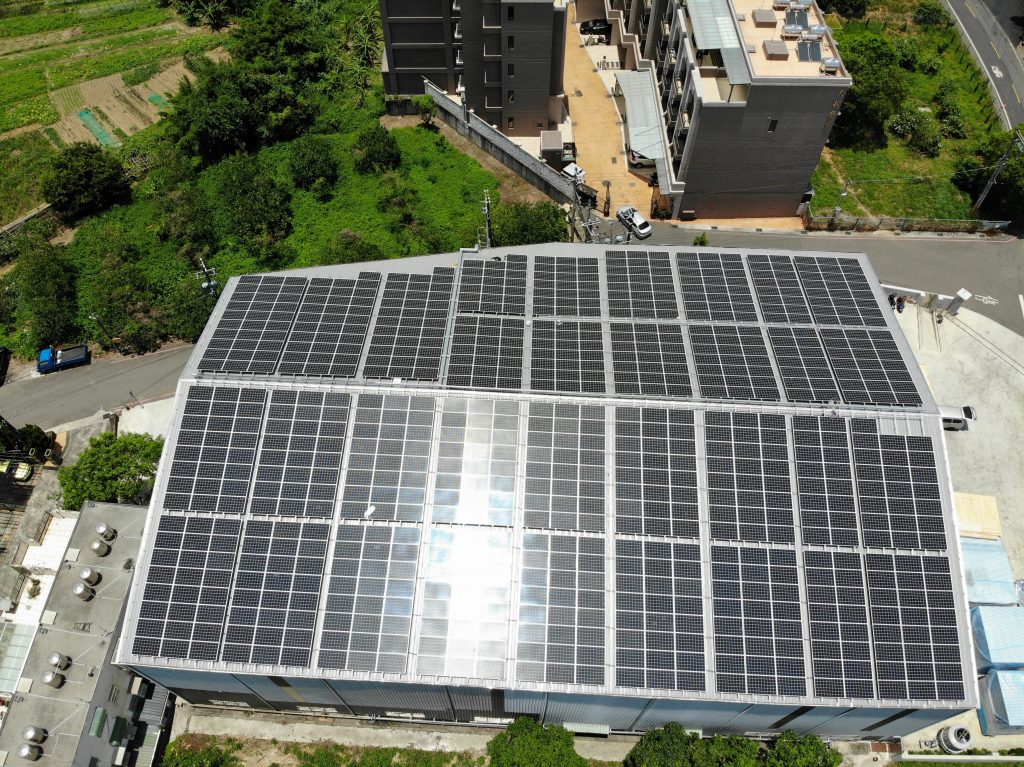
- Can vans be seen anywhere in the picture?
Yes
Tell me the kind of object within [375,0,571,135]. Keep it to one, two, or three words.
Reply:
building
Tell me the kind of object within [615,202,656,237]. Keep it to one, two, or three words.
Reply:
car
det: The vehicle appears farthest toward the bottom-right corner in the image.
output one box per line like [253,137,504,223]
[934,404,979,433]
